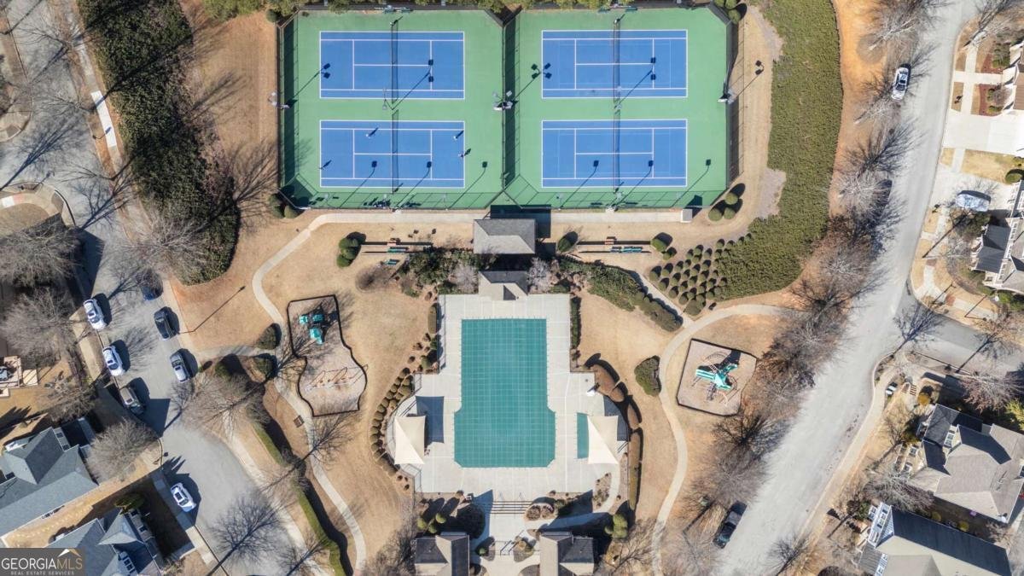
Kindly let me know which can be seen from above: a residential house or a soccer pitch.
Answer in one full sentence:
Of the two, only a residential house appears.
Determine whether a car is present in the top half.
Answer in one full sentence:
Yes, looking in the top half, one can make out a car.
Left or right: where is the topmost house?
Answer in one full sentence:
It is on the right.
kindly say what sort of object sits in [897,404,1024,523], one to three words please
house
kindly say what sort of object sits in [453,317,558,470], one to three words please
swimming pool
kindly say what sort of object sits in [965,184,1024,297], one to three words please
house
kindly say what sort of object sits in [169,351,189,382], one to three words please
car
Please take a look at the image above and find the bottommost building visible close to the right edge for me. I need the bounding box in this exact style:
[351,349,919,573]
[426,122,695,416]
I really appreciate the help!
[850,497,1018,576]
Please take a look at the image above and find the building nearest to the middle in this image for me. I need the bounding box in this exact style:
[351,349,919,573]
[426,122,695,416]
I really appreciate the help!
[479,271,528,301]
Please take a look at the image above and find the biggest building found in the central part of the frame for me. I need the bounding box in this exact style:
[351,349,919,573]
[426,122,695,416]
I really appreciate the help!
[473,218,536,255]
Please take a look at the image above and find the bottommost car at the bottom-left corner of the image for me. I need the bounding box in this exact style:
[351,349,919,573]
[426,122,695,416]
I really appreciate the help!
[171,482,193,513]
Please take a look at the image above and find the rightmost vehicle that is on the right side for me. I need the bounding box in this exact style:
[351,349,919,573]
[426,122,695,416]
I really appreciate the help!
[955,192,991,209]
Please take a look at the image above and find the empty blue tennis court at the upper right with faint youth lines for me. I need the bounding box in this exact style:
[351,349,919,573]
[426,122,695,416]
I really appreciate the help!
[504,7,727,109]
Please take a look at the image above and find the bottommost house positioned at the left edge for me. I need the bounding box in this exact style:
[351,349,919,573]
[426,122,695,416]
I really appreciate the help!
[38,505,168,576]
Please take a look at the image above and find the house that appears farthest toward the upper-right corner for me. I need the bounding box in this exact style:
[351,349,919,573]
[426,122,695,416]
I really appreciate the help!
[990,42,1024,117]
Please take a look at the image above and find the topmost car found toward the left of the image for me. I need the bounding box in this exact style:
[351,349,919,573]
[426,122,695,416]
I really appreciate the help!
[141,270,160,300]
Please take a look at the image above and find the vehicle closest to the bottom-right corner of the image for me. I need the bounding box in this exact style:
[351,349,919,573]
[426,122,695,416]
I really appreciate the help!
[716,507,744,547]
